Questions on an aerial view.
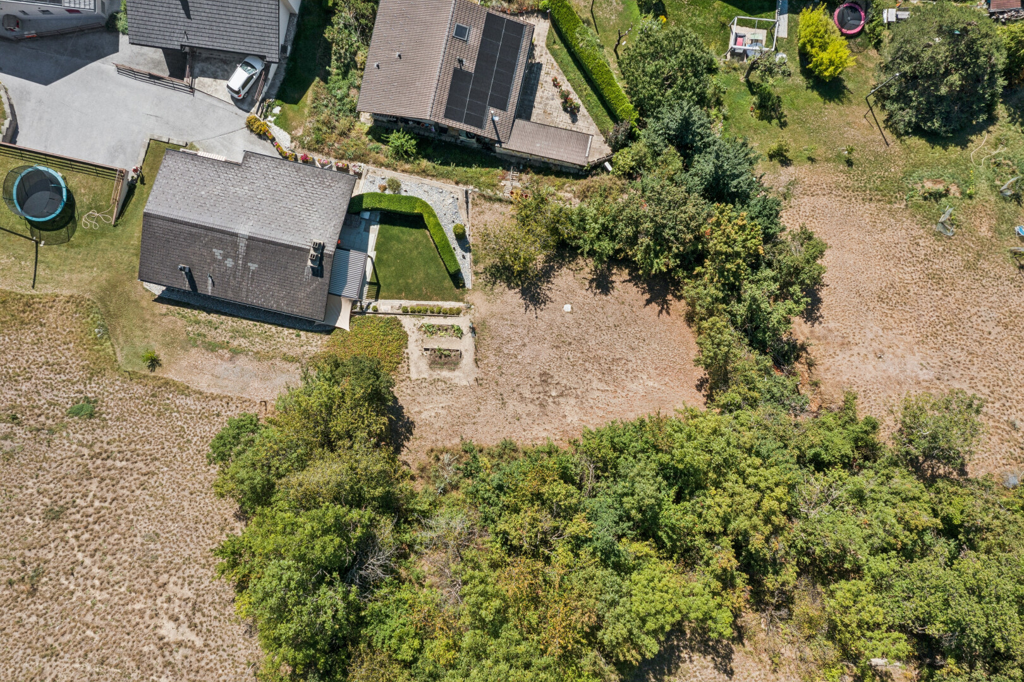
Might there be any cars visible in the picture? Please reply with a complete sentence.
Yes, the picture does show a car.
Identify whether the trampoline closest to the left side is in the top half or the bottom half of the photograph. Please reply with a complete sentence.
You can find the trampoline closest to the left side in the top half.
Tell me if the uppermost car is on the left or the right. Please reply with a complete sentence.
You can find the uppermost car on the left side of the picture.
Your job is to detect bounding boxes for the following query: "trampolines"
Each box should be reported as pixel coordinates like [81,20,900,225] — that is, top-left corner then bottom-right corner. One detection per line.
[0,161,72,221]
[833,0,873,37]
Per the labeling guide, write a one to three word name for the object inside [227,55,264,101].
car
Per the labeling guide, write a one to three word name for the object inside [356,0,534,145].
house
